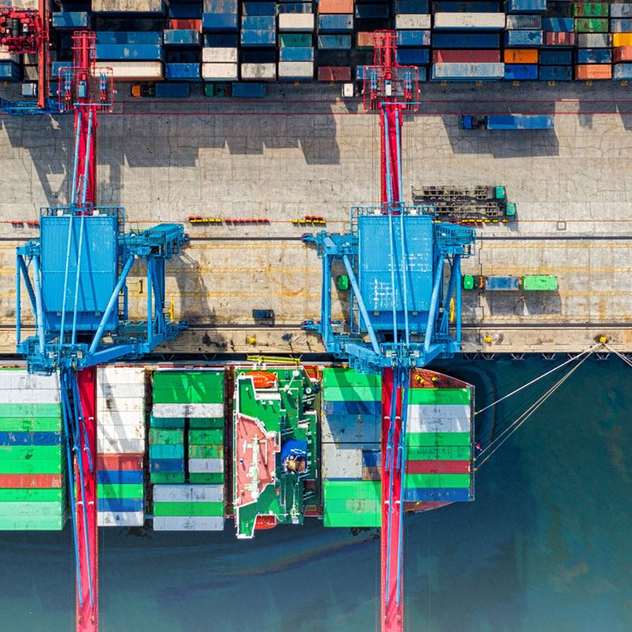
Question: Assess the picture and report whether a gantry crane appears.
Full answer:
Yes, a gantry crane is visible in the scene.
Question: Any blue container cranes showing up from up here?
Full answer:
Yes, this view includes a blue container crane.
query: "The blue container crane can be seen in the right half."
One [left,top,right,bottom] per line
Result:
[299,30,480,632]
